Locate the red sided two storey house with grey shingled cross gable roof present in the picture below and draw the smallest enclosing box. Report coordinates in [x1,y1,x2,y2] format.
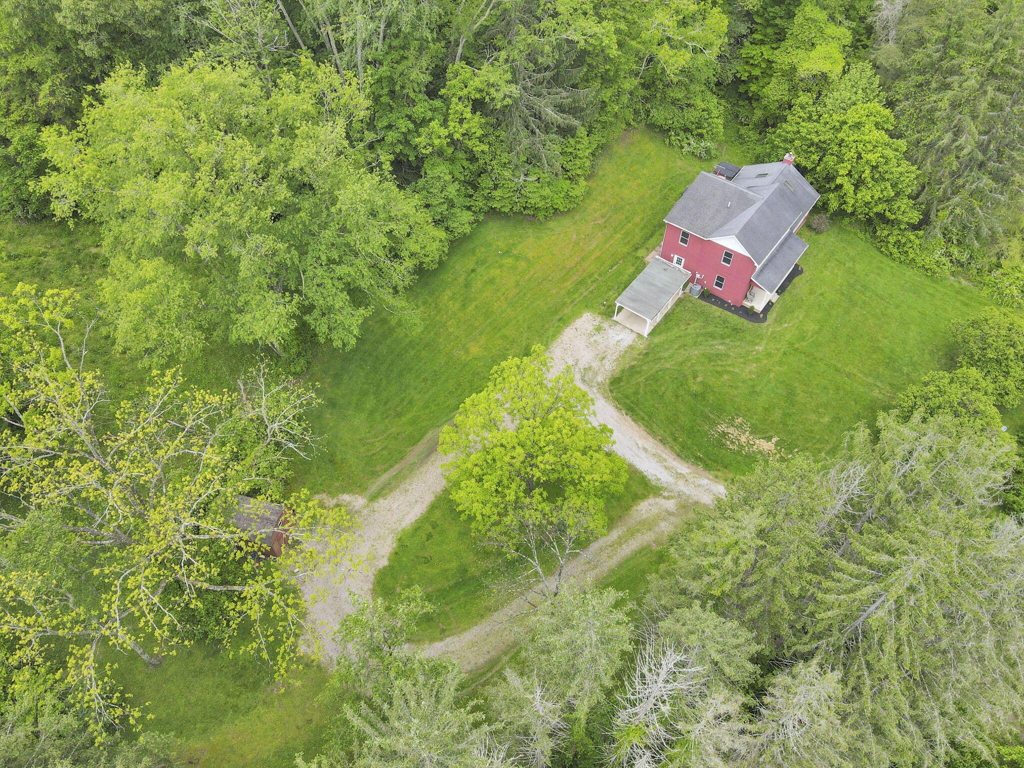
[659,152,821,312]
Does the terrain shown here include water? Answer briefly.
No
